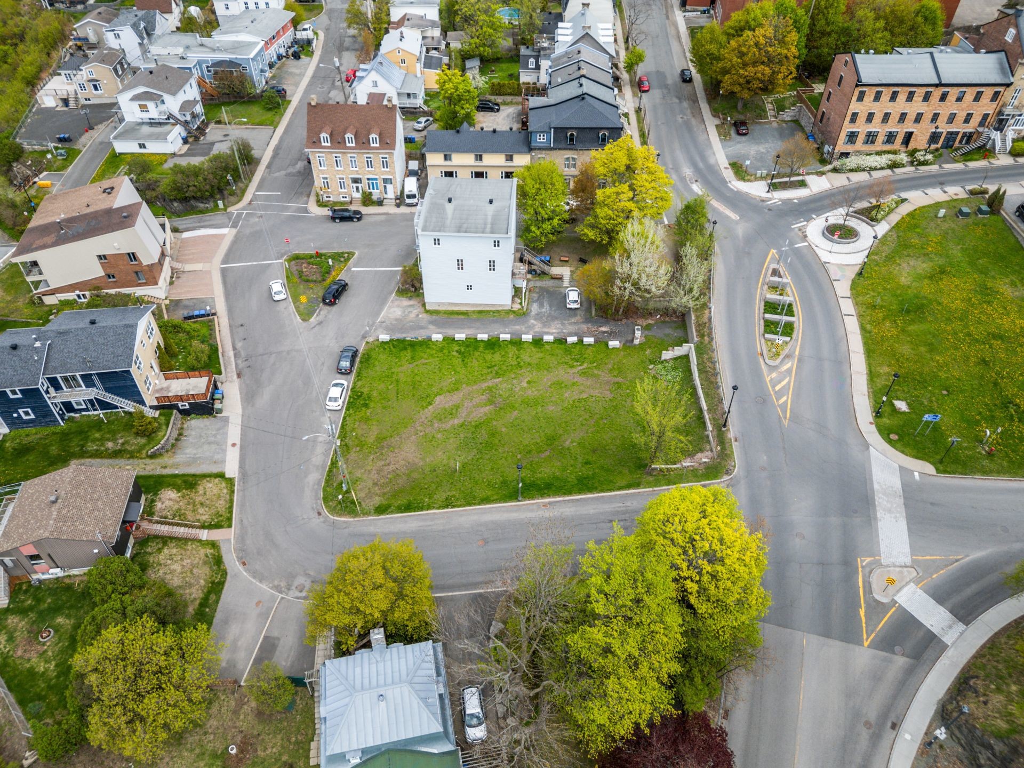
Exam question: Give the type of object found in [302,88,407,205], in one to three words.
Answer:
house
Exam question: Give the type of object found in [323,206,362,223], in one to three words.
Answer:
car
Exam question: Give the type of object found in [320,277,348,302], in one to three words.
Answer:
car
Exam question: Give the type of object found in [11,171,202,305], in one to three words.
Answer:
house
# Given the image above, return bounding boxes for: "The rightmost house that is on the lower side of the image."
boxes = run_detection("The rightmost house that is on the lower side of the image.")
[321,627,466,768]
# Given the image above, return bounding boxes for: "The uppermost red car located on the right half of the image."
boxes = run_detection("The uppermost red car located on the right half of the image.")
[638,76,651,89]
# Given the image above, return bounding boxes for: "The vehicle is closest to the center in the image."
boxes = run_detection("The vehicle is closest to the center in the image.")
[564,285,582,310]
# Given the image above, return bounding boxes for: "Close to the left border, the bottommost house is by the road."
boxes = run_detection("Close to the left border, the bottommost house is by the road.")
[0,459,208,583]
